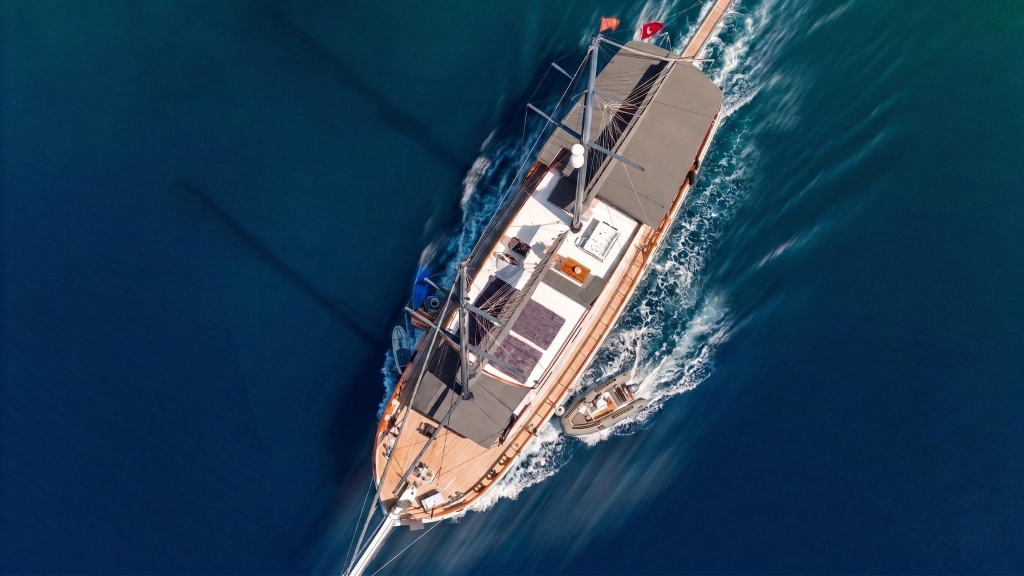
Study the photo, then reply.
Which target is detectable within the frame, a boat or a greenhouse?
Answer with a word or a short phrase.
boat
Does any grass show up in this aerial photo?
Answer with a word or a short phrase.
No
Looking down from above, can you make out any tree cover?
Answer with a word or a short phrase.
No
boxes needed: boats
[336,0,735,576]
[559,373,647,438]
